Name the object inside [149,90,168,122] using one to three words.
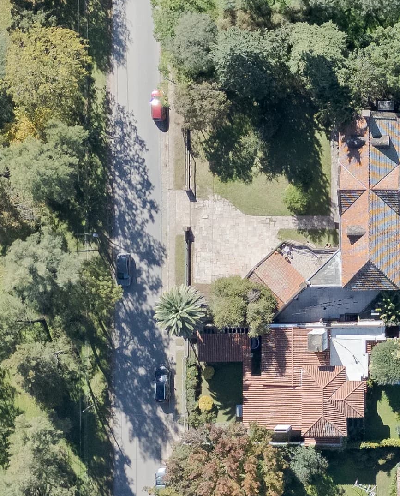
car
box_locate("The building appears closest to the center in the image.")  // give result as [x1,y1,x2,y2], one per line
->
[243,252,307,314]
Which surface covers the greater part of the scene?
trees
